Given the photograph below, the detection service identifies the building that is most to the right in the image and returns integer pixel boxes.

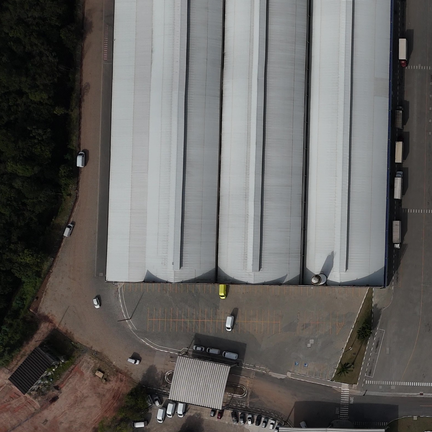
[302,0,394,287]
